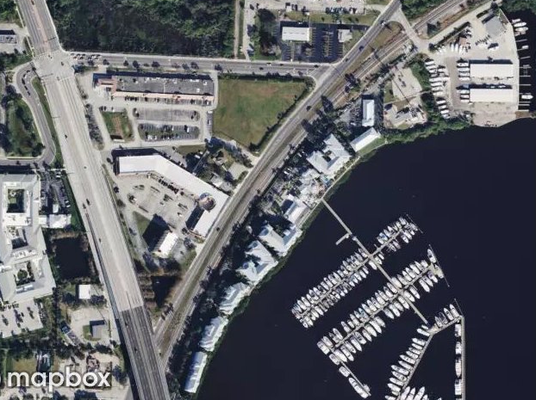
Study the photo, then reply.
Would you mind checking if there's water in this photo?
Yes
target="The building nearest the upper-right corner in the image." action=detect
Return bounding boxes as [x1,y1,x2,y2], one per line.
[479,15,508,39]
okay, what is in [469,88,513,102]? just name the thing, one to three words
shed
